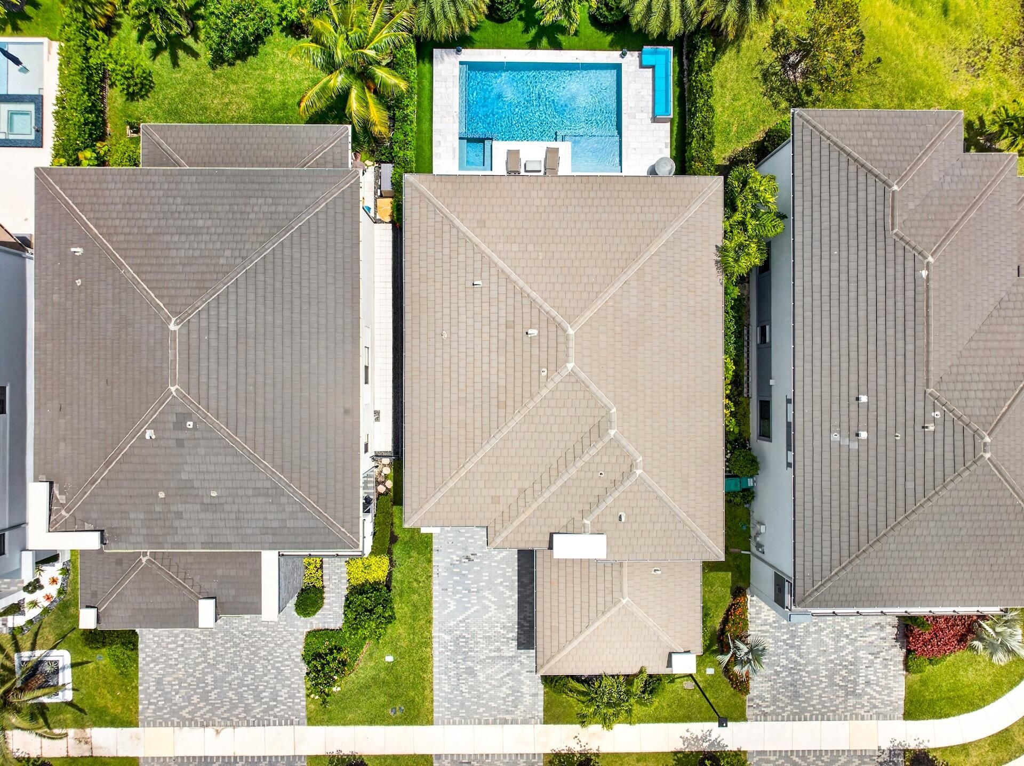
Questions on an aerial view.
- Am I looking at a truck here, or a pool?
pool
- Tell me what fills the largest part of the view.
buildings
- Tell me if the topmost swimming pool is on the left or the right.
left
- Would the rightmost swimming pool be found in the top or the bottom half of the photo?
top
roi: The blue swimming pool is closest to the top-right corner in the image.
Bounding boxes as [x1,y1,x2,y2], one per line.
[459,56,622,171]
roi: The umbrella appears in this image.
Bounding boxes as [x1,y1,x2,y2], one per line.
[0,48,28,70]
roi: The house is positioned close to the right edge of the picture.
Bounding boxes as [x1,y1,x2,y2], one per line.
[743,107,1024,627]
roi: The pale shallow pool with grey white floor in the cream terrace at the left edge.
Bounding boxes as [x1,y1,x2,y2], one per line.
[0,42,43,94]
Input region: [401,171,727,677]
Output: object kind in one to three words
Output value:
house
